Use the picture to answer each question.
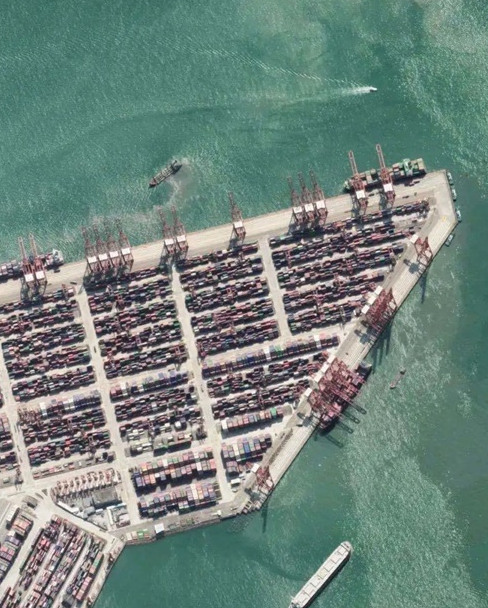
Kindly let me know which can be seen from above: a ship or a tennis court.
ship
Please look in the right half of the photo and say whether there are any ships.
Yes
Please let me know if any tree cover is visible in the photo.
No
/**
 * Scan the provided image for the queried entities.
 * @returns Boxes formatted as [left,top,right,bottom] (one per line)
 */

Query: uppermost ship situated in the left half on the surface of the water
[149,160,180,187]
